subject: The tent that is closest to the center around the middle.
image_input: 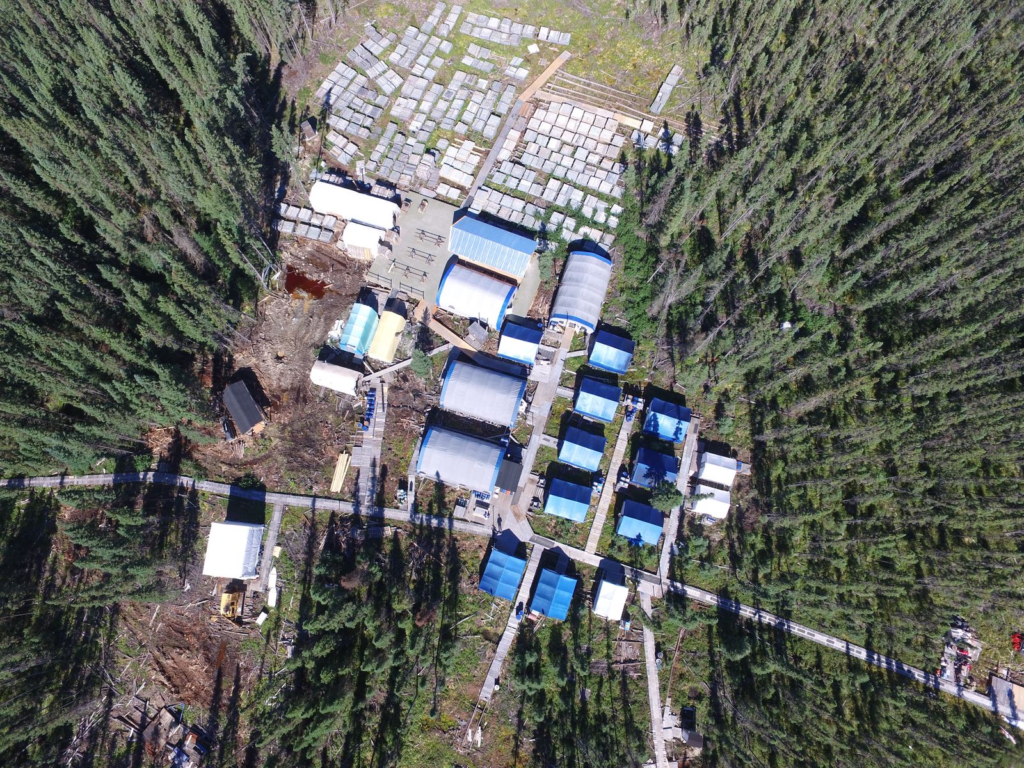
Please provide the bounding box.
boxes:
[497,323,544,368]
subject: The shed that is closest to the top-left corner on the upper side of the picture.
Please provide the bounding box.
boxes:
[297,120,323,147]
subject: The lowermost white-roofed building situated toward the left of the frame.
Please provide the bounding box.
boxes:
[202,522,267,577]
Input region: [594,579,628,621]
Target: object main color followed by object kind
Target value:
white tent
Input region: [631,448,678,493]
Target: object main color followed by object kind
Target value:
blue tent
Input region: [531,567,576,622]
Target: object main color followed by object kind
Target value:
blue tent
